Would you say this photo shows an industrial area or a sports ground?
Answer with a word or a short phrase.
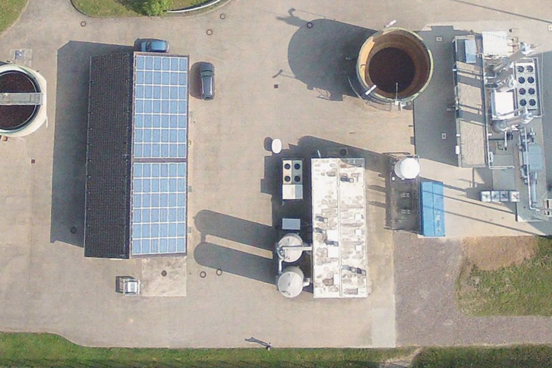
industrial area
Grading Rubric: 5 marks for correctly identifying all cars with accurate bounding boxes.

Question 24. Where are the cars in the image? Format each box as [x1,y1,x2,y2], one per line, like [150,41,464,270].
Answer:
[141,39,171,54]
[197,63,215,101]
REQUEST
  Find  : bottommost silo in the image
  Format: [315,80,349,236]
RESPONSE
[277,264,311,296]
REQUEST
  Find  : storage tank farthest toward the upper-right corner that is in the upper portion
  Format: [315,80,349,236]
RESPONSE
[352,26,435,114]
